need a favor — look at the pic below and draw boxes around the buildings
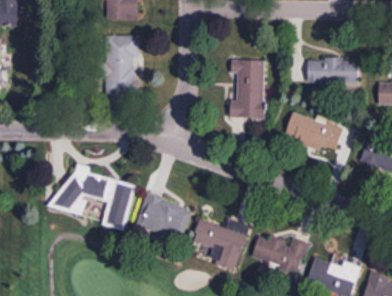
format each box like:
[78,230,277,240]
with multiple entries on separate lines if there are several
[254,235,308,277]
[360,146,392,175]
[286,114,343,154]
[104,37,140,94]
[107,0,138,20]
[0,0,17,26]
[378,82,392,106]
[307,58,358,83]
[46,164,136,231]
[136,193,192,237]
[230,60,266,118]
[194,217,250,276]
[364,270,392,296]
[310,260,362,296]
